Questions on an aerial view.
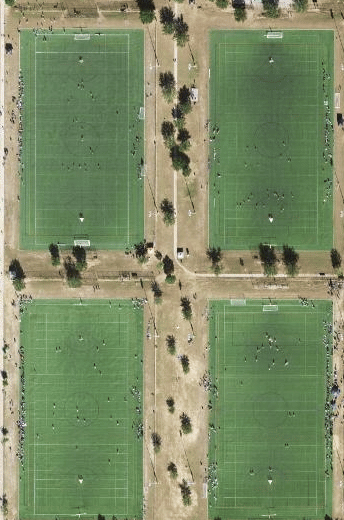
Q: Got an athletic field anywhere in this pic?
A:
Yes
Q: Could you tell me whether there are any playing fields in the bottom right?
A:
Yes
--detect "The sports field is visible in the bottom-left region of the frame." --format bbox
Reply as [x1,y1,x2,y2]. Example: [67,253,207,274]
[19,298,144,520]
